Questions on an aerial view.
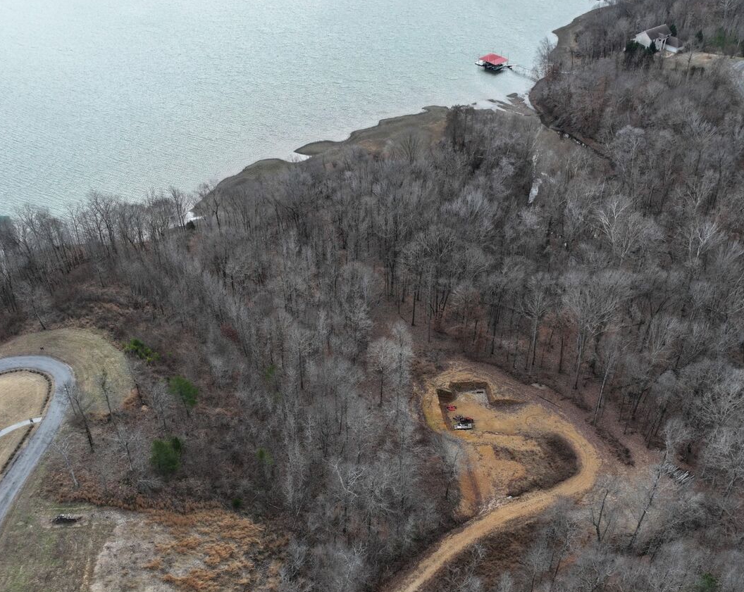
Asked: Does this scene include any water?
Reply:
Yes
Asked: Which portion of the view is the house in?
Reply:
top right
